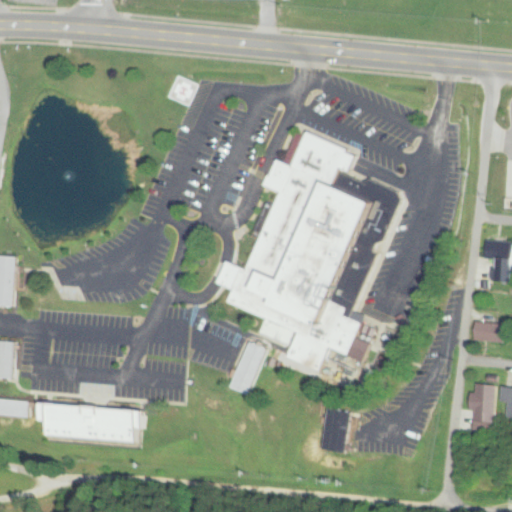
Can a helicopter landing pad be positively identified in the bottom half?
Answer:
No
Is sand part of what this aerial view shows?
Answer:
No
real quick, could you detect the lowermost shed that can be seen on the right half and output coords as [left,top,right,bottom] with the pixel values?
[321,409,350,453]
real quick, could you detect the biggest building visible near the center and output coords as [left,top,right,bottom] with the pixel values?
[215,131,400,378]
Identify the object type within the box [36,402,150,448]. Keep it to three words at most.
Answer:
building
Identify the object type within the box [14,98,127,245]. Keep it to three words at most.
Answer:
pond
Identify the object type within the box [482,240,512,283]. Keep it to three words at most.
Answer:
house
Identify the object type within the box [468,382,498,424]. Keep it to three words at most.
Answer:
house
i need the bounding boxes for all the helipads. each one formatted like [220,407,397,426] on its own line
[168,75,200,108]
